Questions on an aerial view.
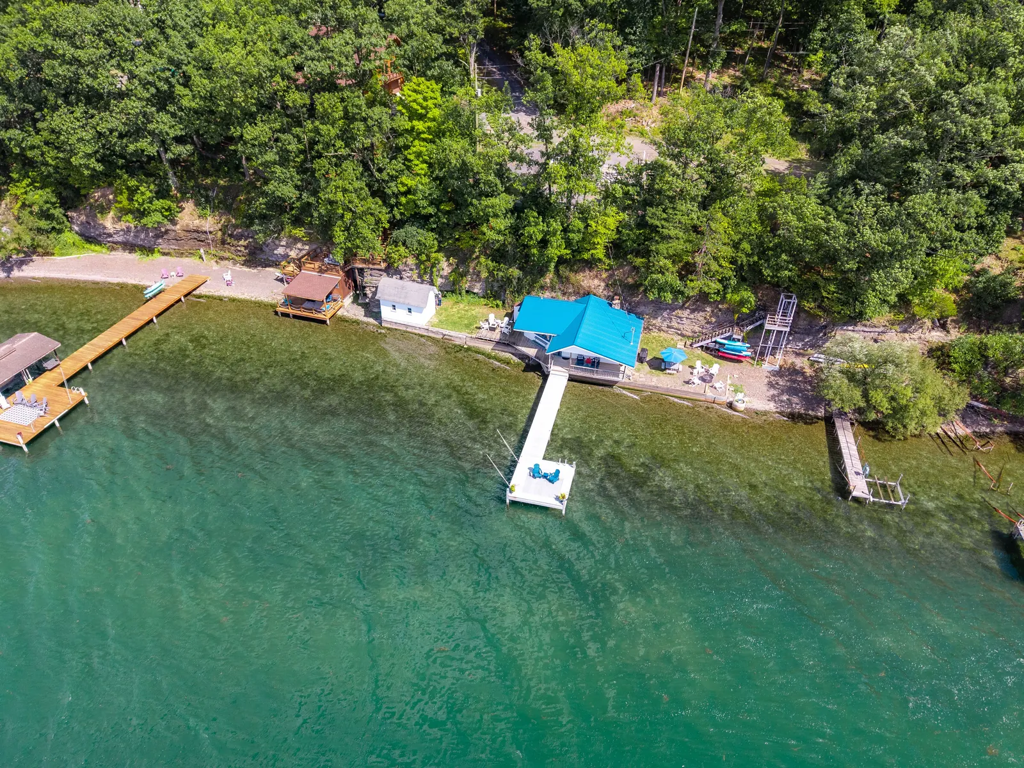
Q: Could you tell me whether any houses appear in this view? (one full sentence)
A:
Yes, a house is visible in the scene.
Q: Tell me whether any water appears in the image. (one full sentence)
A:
Yes, there's water in this view.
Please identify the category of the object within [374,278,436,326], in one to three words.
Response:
shed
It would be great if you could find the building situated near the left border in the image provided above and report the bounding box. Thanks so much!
[0,330,77,402]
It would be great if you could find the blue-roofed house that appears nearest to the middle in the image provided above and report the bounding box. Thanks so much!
[511,290,647,390]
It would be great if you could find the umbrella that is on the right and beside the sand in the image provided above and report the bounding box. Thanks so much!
[660,341,691,360]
